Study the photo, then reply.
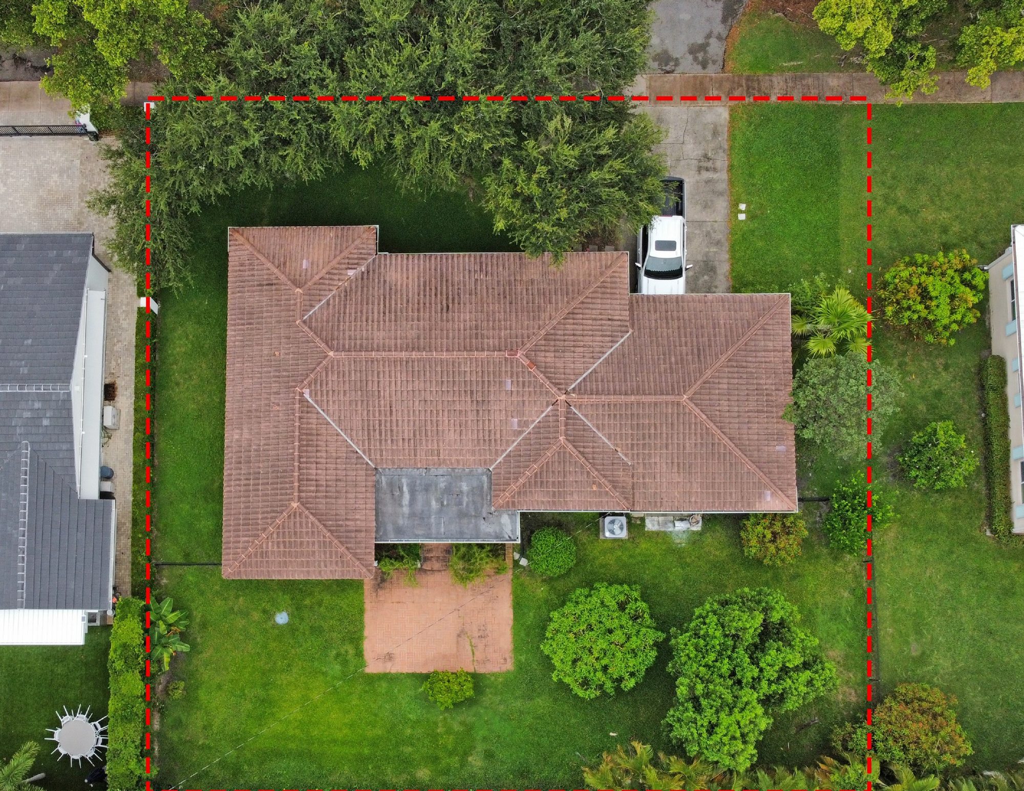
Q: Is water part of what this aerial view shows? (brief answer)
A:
No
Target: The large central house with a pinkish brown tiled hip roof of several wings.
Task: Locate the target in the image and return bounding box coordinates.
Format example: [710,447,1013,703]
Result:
[218,224,799,581]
